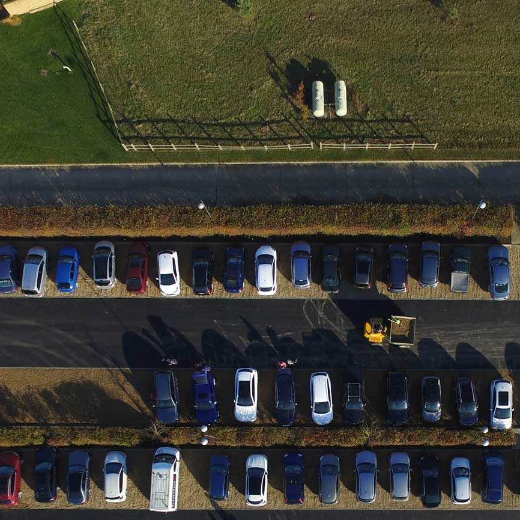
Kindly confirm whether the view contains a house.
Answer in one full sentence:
No, there isn't any house down there.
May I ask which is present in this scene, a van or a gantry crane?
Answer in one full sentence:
Visible in the photo is a van.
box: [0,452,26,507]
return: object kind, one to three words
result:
car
